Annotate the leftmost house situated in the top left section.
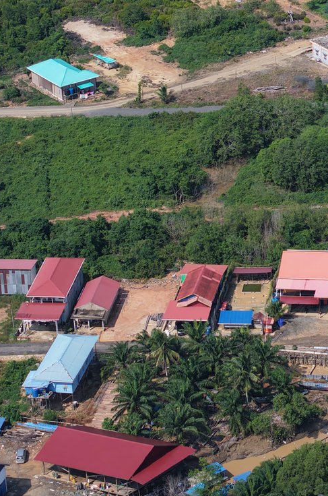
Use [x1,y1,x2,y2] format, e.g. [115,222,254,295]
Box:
[27,54,96,97]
